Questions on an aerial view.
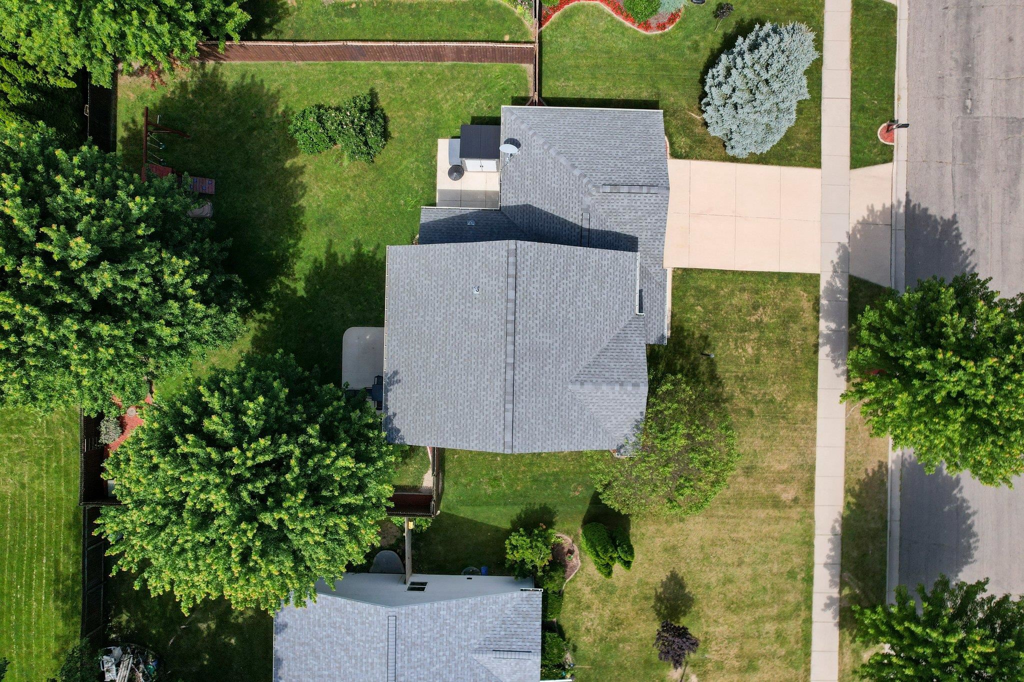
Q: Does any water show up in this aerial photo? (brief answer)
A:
No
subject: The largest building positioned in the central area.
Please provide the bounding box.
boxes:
[381,103,671,458]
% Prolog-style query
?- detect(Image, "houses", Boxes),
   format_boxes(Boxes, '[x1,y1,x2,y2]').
[270,575,544,682]
[381,103,671,458]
